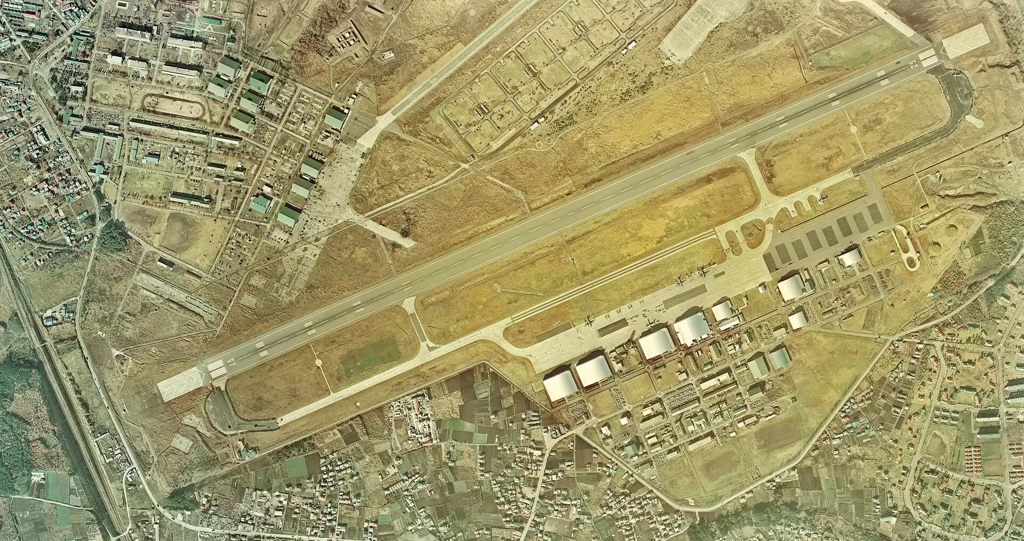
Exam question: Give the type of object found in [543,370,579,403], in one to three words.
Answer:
hangar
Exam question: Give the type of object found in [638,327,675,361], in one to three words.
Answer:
hangar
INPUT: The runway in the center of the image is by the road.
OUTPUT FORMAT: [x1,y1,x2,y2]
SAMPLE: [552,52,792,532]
[200,42,947,384]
